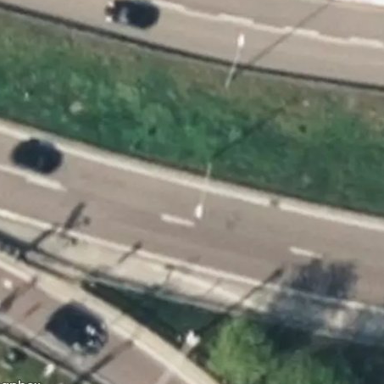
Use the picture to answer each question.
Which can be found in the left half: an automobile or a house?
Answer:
automobile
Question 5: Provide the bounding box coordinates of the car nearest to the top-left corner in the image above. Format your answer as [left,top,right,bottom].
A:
[107,0,156,26]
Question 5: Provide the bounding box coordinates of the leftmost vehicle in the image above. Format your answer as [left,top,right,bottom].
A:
[11,142,62,175]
